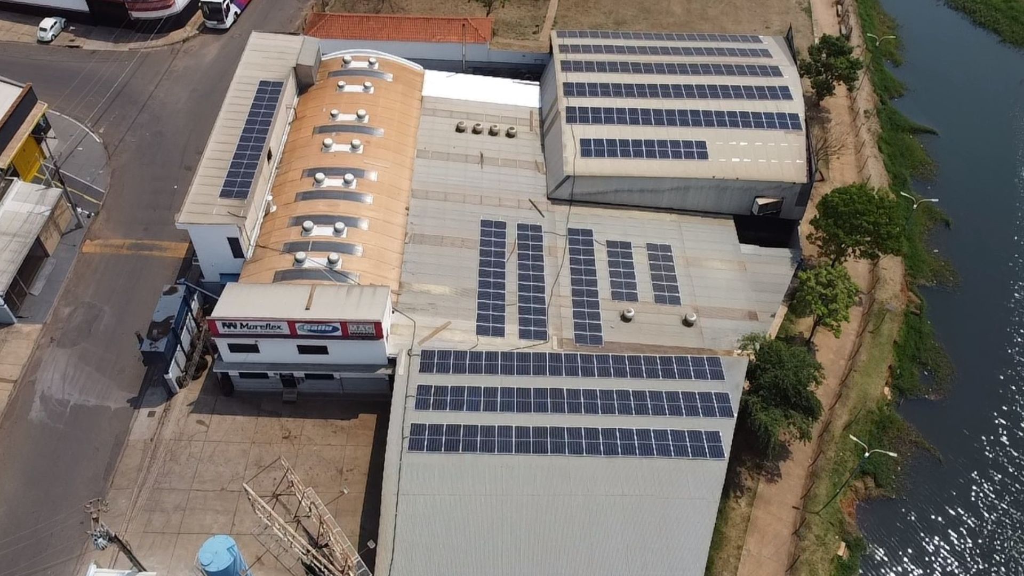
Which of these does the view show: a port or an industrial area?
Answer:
industrial area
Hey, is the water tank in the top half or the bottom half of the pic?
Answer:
bottom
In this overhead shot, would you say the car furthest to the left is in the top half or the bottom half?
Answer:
top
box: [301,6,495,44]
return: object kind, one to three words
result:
building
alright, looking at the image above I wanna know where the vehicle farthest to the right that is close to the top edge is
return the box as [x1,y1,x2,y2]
[197,0,247,27]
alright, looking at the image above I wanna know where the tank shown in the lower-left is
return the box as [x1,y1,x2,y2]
[199,535,261,576]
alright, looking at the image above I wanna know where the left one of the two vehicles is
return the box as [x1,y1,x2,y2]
[31,17,68,42]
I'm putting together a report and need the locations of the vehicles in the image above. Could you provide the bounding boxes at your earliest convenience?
[197,0,247,27]
[31,17,68,42]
